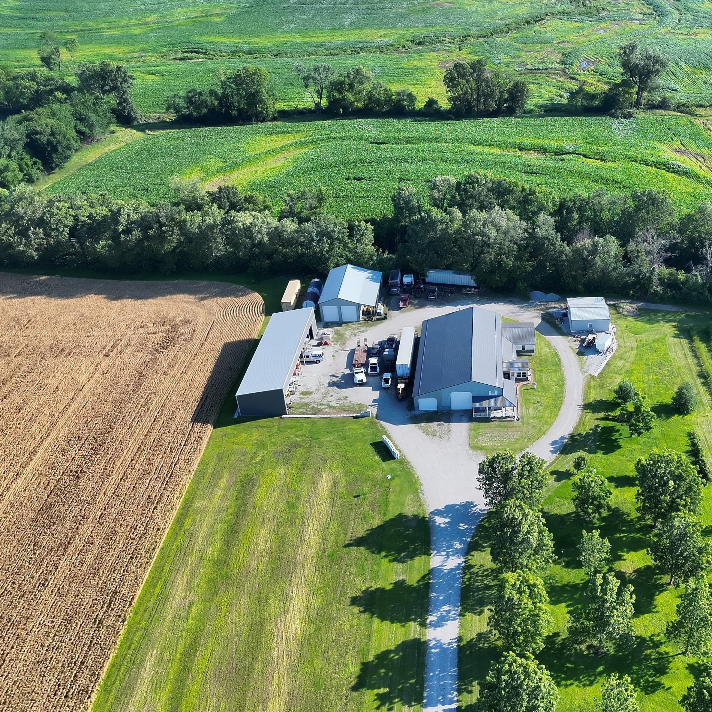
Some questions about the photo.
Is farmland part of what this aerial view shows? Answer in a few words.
Yes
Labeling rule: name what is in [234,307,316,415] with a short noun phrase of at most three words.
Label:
shed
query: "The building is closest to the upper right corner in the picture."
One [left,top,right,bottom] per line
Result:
[568,298,611,332]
